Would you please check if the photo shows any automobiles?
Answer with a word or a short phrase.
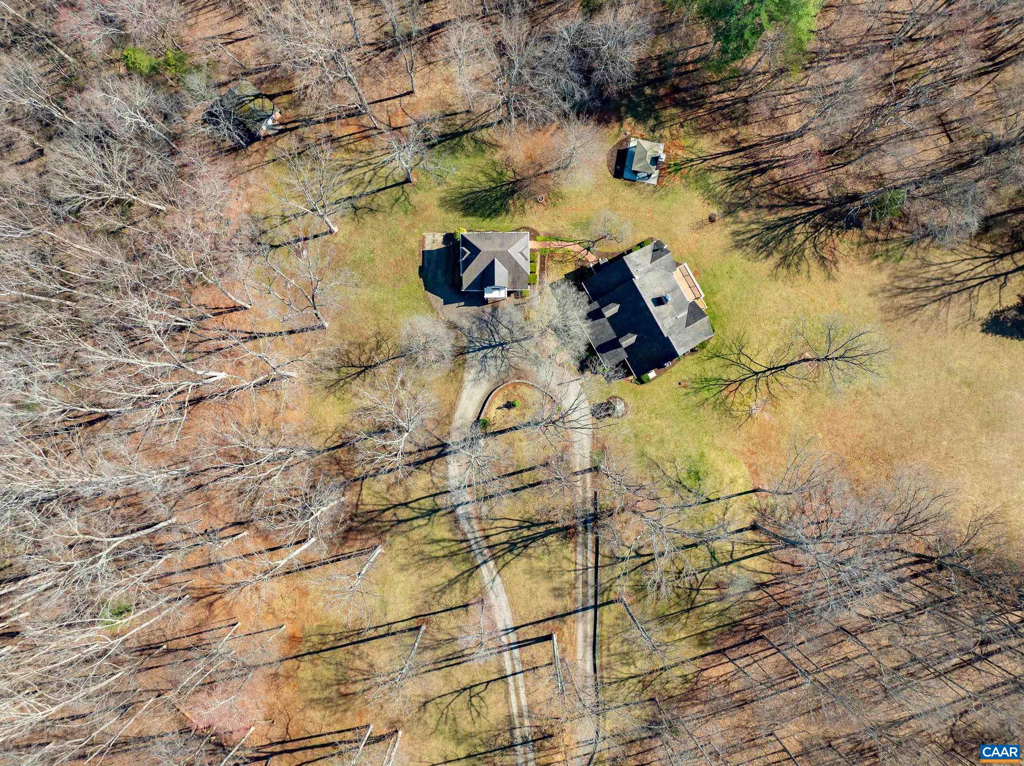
No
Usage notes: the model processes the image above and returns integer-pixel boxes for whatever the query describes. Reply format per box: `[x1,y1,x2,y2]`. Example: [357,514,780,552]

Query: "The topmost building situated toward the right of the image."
[623,137,666,184]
